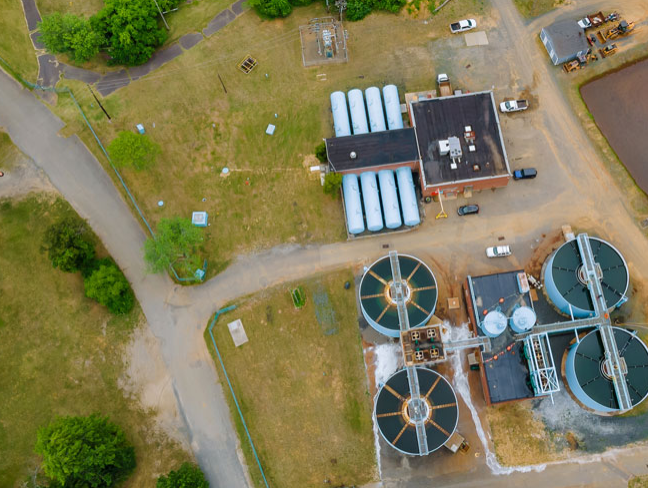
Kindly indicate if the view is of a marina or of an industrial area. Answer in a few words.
industrial area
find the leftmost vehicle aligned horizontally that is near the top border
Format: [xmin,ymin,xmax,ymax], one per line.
[449,19,477,33]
